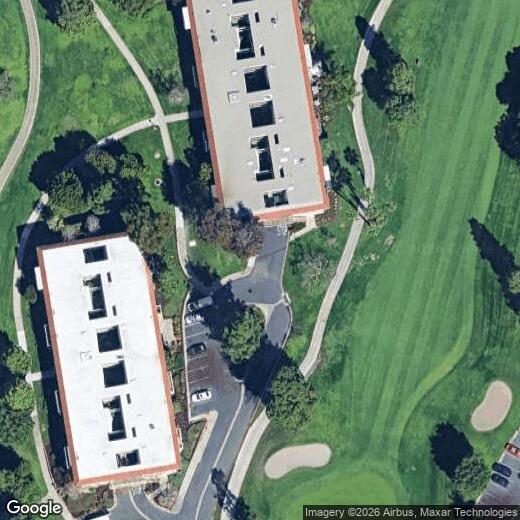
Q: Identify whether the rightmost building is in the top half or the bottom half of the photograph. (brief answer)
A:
top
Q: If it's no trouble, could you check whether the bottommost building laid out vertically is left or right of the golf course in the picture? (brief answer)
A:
to the left of it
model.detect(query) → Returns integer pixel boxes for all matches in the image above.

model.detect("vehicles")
[187,298,212,311]
[492,461,512,476]
[505,443,520,458]
[191,391,211,401]
[491,473,509,488]
[185,313,205,324]
[187,343,207,355]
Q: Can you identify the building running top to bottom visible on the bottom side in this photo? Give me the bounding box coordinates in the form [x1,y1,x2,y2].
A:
[29,228,185,492]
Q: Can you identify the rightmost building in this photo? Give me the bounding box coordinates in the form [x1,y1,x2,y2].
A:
[177,0,333,232]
